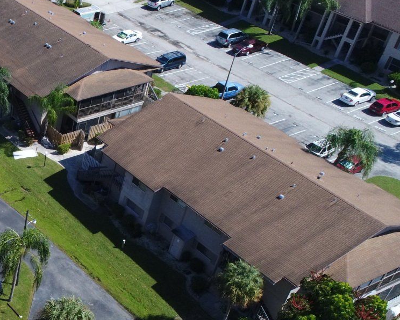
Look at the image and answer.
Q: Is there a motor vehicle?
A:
Yes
